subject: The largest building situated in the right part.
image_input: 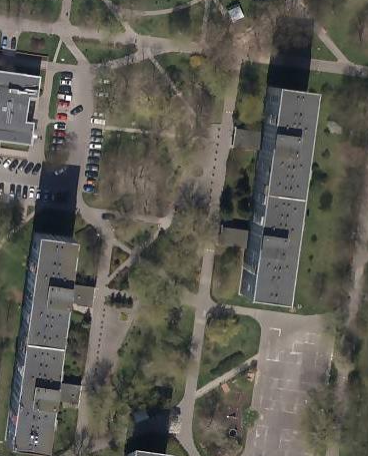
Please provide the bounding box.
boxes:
[220,87,321,307]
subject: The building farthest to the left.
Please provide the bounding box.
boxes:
[0,71,41,150]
